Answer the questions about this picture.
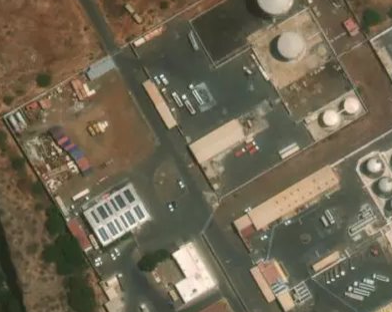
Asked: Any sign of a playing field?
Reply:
No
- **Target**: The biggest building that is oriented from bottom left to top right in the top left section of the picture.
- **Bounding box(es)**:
[86,56,117,82]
